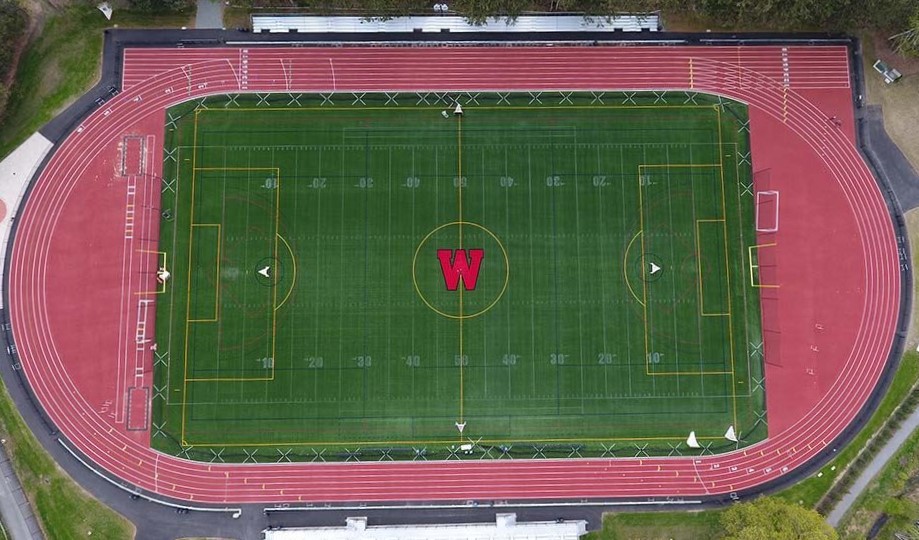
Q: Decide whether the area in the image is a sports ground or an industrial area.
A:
sports ground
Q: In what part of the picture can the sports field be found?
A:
center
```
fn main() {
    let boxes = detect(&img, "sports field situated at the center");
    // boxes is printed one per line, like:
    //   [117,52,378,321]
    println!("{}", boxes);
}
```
[151,91,769,463]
